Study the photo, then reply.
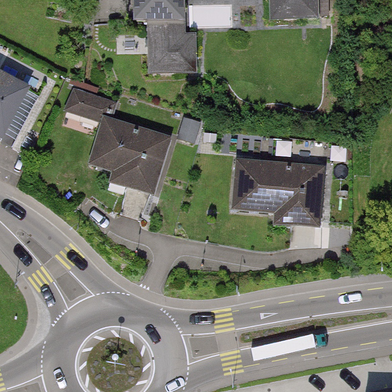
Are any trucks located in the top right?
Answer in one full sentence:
No, no truck is visible in the top right.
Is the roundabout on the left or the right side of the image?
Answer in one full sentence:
The roundabout is on the left side of the image.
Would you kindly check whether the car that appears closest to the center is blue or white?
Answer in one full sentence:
The car that appears closest to the center looks white in the image.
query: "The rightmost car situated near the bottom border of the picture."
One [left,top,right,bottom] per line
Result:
[338,366,362,390]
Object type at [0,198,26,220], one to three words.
car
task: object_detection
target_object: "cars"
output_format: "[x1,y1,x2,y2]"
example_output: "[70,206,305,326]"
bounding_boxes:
[53,366,66,389]
[12,242,33,266]
[338,366,362,390]
[338,292,362,304]
[88,207,109,227]
[144,322,162,344]
[190,312,214,324]
[307,372,326,392]
[0,198,26,220]
[163,376,185,392]
[64,248,88,270]
[40,282,55,307]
